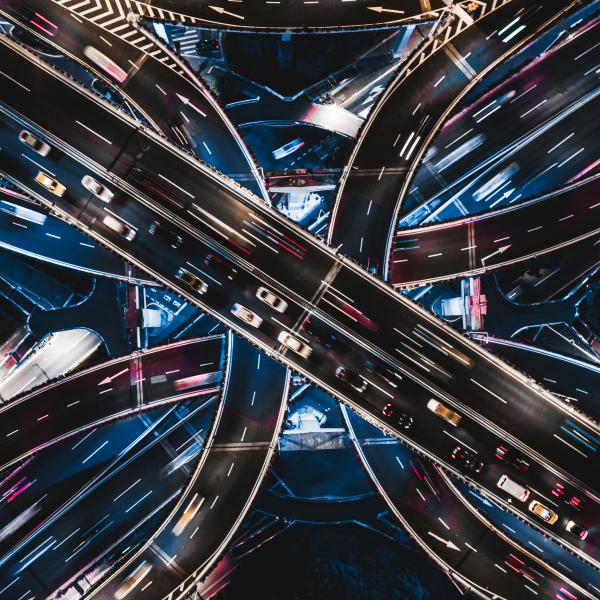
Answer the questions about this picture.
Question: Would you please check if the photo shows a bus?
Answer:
Yes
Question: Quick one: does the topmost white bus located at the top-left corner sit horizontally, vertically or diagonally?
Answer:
diagonally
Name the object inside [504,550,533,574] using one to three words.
car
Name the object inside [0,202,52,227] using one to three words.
bus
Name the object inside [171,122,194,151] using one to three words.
car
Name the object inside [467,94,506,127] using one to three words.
bus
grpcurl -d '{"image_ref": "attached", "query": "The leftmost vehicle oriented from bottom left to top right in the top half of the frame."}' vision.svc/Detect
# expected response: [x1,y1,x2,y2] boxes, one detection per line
[270,137,305,165]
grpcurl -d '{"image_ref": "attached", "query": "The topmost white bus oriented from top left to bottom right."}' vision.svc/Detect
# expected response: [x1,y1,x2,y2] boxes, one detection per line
[83,45,132,88]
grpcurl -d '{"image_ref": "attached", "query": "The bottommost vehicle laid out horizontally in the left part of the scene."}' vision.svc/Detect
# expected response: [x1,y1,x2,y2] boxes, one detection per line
[175,368,224,393]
